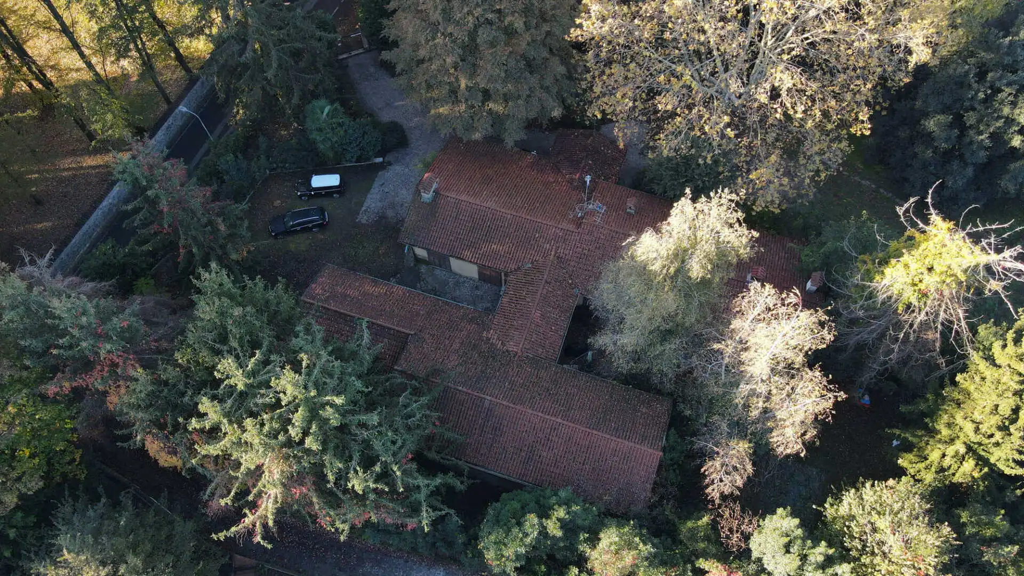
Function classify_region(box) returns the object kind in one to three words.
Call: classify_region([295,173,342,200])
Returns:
car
